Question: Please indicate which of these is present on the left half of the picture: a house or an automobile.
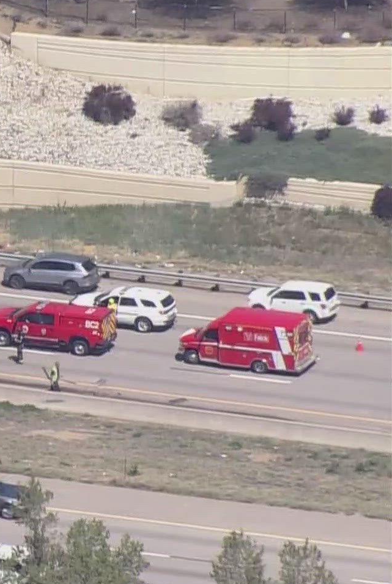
automobile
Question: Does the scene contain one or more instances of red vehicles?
Yes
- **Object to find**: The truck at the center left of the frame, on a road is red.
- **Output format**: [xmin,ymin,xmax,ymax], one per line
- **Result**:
[0,299,116,356]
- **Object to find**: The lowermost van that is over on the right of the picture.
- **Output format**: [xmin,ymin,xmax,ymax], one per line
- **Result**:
[171,304,314,374]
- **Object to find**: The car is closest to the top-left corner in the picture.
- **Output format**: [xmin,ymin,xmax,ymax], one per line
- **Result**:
[0,249,102,294]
